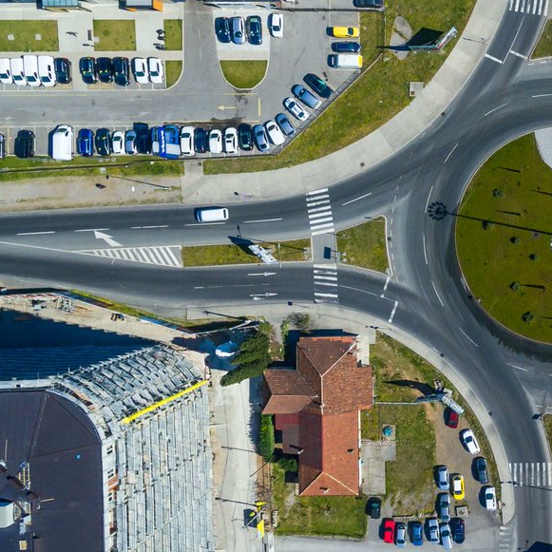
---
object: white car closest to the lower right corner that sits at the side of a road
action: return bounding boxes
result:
[484,483,497,511]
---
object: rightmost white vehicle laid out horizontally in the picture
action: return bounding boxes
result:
[328,53,361,68]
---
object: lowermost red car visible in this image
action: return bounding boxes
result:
[383,518,396,543]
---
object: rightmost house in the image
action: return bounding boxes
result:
[262,339,377,496]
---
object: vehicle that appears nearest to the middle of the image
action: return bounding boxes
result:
[197,207,229,221]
